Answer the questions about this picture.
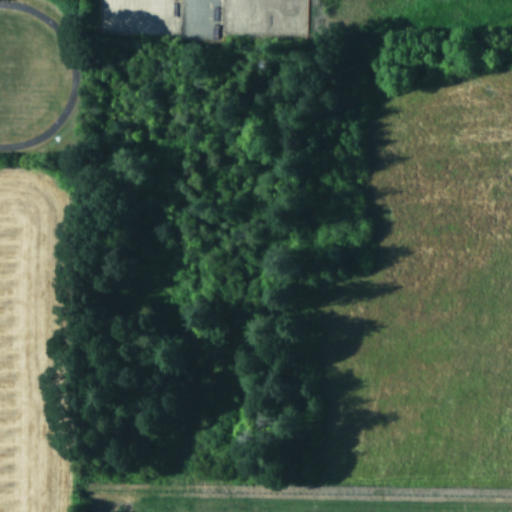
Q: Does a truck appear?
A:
No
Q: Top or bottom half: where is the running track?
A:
top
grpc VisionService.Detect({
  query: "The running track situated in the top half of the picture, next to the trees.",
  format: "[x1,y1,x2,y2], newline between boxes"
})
[0,0,80,152]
